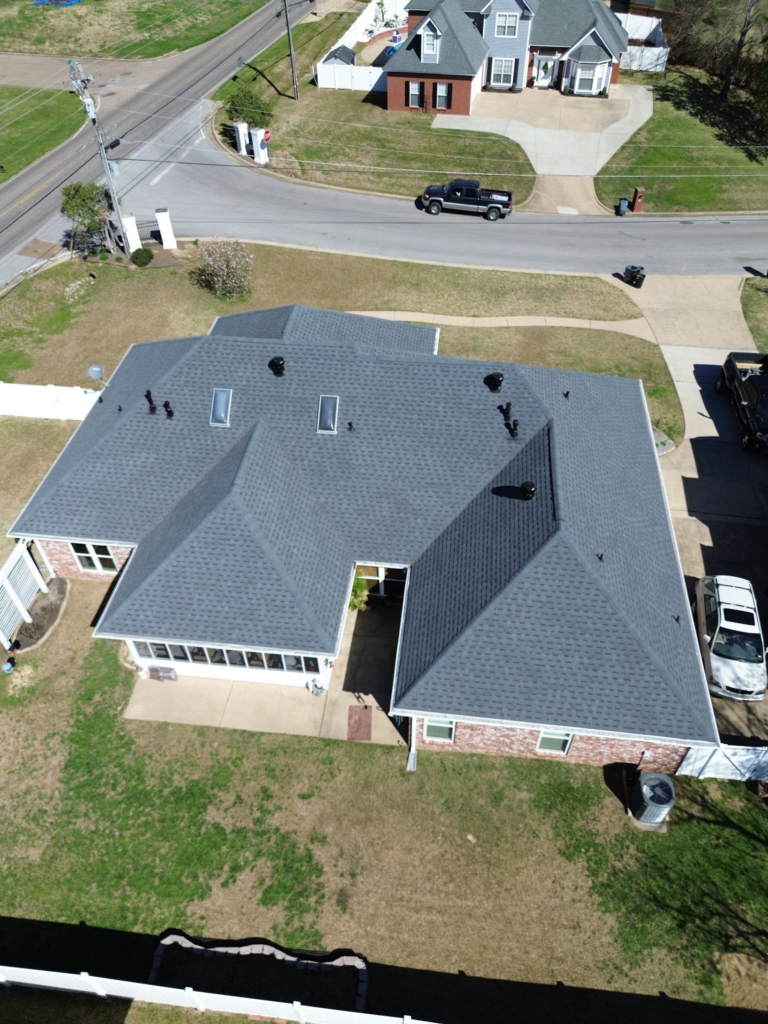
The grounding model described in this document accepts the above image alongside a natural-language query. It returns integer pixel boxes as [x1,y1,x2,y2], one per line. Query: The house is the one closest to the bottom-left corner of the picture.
[7,304,720,774]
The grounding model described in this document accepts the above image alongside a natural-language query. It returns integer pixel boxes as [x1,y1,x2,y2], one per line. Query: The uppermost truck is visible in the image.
[418,177,518,221]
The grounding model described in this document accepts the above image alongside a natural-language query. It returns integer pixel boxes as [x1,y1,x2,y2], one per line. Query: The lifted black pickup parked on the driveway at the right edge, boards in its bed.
[721,350,768,451]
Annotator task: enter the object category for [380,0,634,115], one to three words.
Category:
house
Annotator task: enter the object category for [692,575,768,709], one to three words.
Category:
car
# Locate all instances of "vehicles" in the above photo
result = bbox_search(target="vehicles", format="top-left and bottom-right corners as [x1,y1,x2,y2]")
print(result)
[692,575,768,709]
[418,177,518,221]
[721,350,768,451]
